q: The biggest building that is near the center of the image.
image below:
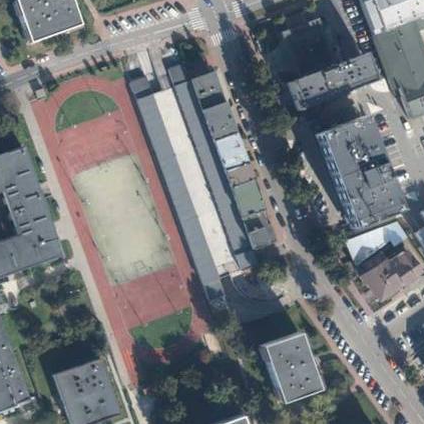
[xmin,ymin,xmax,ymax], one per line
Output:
[132,83,245,280]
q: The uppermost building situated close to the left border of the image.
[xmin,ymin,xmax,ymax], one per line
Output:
[13,0,84,43]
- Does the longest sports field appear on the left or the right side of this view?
left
